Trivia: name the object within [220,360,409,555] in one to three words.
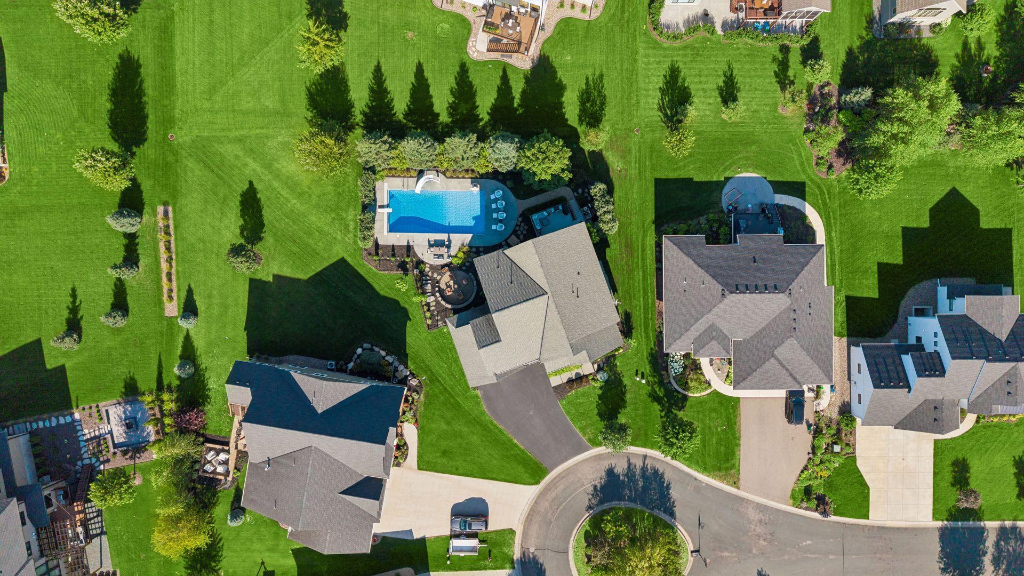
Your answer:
house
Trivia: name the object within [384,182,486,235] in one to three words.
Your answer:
swimming pool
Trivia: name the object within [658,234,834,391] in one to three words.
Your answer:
house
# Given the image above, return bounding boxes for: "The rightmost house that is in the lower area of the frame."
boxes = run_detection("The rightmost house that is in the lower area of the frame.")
[849,284,1024,435]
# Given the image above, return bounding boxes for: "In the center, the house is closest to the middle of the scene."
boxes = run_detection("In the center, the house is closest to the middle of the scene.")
[446,221,623,388]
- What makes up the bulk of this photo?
grass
